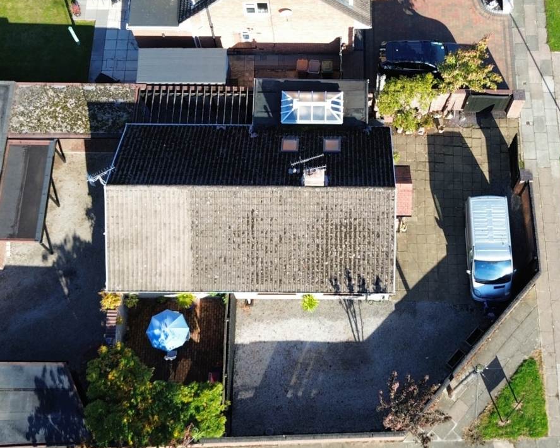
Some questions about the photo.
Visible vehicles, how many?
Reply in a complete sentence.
There are 2 vehicles in the image.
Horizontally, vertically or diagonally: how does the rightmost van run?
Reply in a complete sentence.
Seen from above, the rightmost van lies vertically.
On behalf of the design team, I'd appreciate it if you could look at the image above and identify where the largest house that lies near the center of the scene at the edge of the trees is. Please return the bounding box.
[102,126,398,306]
